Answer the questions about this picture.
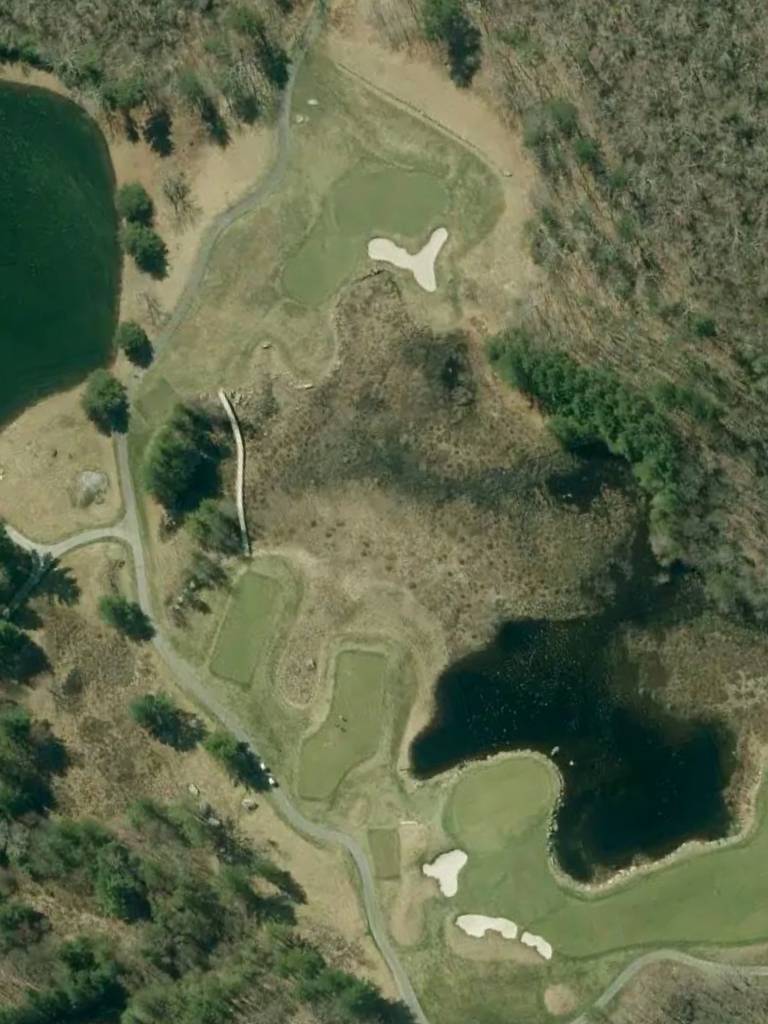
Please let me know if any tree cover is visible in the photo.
Yes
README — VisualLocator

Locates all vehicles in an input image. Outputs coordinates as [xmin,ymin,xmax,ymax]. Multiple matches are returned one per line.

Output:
[267,775,276,785]
[259,760,267,770]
